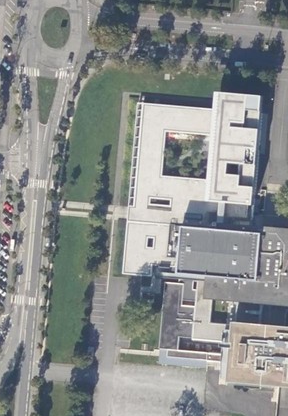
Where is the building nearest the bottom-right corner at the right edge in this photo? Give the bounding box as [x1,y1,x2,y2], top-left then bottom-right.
[226,322,288,391]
